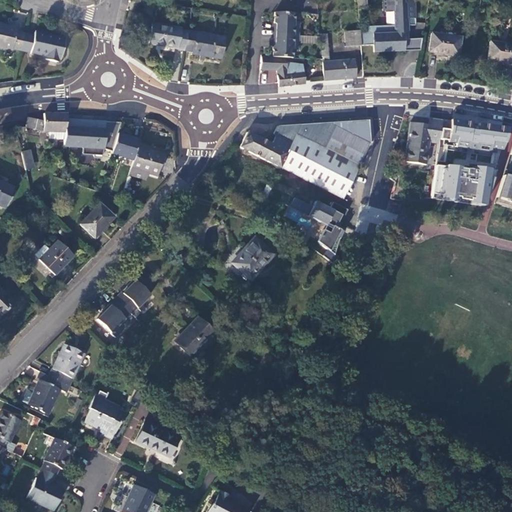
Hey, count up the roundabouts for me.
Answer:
2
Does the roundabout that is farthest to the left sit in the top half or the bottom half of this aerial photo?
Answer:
top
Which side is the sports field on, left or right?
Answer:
right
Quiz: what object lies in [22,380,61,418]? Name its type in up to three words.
house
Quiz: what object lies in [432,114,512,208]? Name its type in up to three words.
building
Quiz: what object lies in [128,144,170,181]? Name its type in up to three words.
house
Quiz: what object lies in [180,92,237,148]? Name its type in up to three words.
roundabout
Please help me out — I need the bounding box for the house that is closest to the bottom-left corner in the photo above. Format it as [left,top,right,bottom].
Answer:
[30,461,70,511]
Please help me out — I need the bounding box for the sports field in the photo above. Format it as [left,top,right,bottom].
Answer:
[344,236,512,466]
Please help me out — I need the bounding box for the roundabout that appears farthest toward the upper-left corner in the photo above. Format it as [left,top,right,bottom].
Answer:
[66,35,137,104]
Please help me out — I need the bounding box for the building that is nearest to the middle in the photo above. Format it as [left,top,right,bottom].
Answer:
[232,236,276,281]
